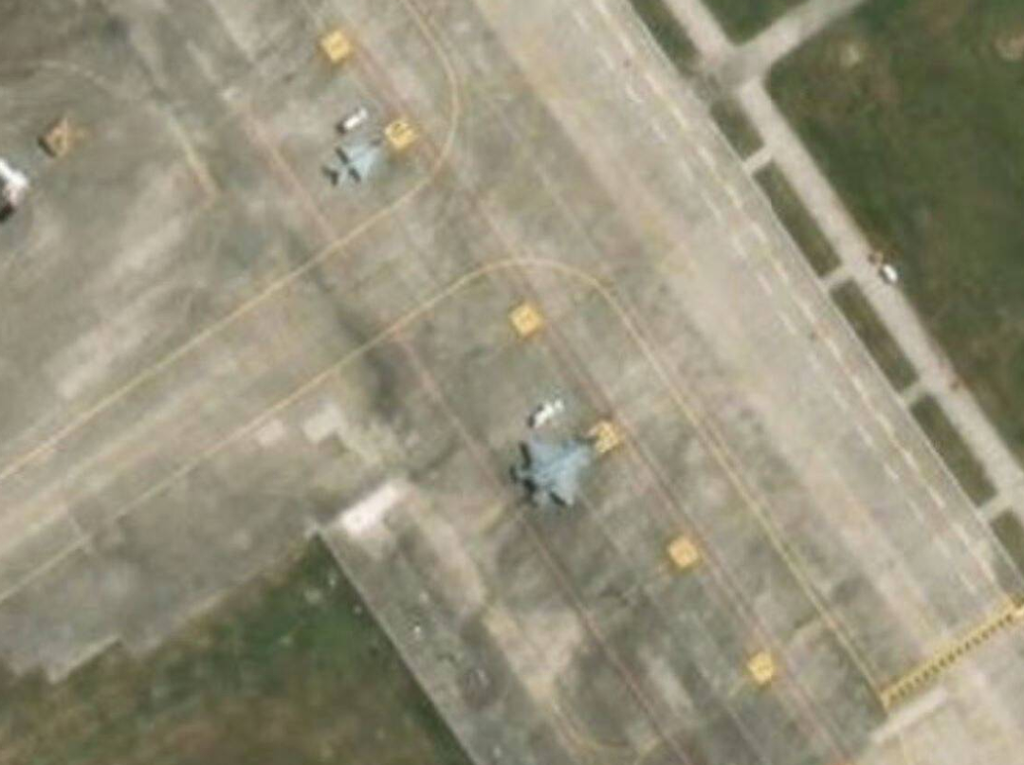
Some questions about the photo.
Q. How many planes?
2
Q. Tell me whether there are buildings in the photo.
No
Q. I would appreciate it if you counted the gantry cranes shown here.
none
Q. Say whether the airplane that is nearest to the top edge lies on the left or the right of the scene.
left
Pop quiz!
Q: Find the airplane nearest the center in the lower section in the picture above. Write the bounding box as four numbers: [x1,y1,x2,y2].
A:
[518,447,597,512]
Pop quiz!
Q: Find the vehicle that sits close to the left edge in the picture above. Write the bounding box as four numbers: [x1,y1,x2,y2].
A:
[0,158,30,207]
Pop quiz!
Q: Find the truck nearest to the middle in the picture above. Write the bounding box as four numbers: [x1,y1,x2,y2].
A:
[533,401,560,422]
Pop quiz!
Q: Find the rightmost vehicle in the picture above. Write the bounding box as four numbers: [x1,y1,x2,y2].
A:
[880,263,898,284]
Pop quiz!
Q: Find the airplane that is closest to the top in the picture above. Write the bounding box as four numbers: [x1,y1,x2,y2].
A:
[327,142,386,191]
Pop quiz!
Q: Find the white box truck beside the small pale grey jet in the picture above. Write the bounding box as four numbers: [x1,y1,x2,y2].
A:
[341,109,368,130]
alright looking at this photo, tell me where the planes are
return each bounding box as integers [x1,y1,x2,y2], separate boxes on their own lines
[518,447,597,512]
[327,142,386,191]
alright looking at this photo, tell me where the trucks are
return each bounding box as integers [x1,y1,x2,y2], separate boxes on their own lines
[341,109,368,130]
[0,158,30,207]
[533,401,560,422]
